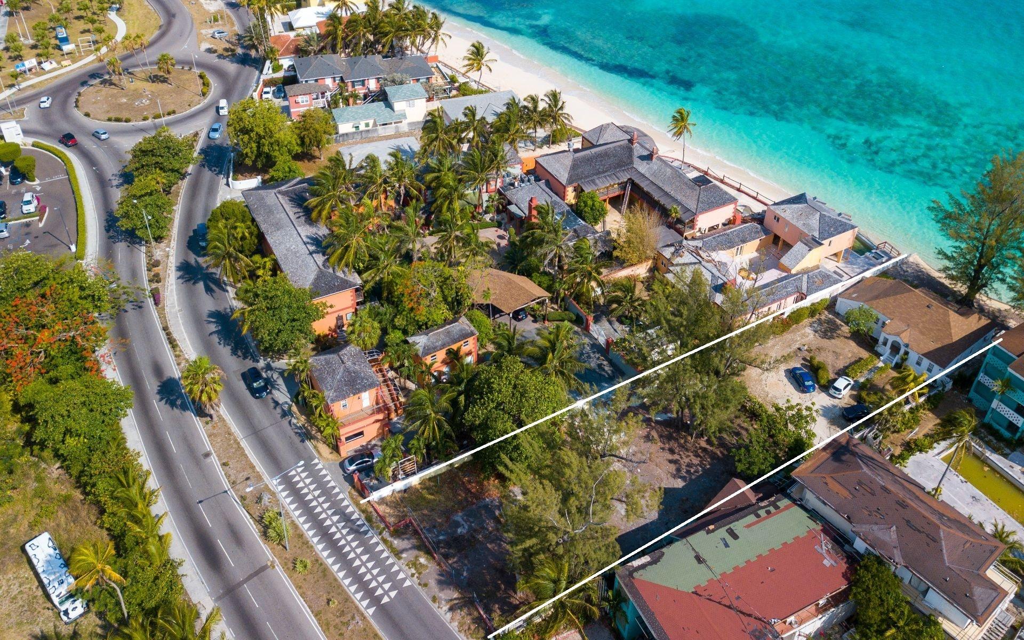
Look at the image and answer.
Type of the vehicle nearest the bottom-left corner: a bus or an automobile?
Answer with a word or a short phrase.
bus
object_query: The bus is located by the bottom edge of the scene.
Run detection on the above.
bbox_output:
[23,530,90,632]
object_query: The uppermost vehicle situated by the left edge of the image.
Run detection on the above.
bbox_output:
[35,95,57,109]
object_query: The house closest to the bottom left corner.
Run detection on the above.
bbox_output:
[309,344,392,455]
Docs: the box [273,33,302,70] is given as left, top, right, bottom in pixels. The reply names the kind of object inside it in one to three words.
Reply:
house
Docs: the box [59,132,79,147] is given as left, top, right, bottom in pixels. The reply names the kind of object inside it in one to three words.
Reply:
car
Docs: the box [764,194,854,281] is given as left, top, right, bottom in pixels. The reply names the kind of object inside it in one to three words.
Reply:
house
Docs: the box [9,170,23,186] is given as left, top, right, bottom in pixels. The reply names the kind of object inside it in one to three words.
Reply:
car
